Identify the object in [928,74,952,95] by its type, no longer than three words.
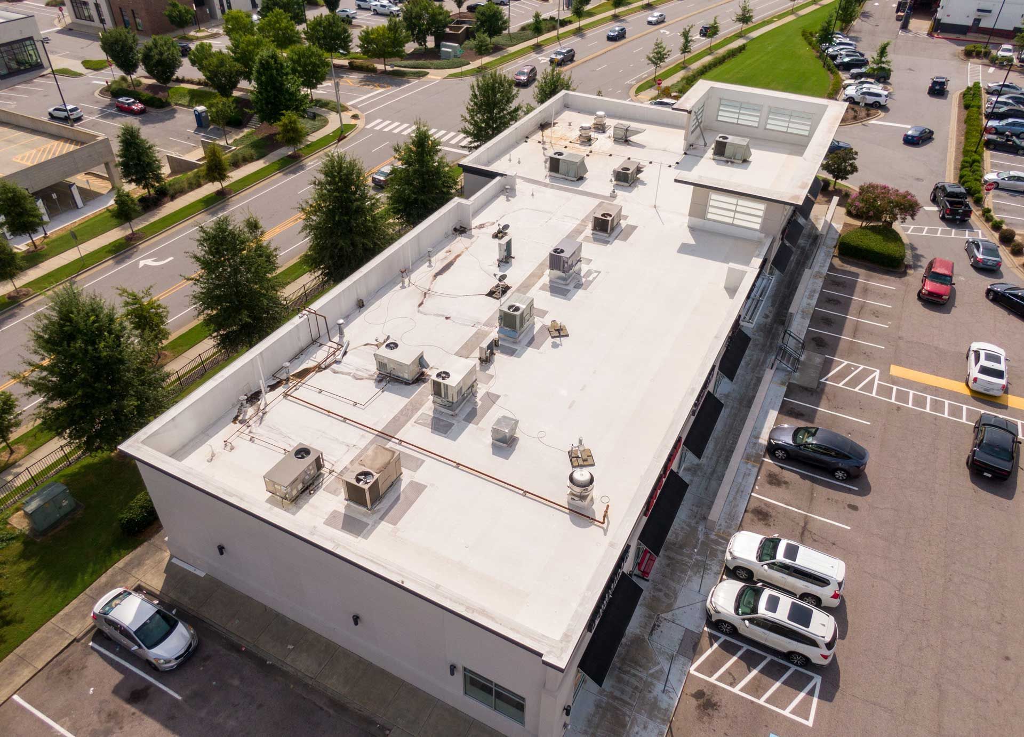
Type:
car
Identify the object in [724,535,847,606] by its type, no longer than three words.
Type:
car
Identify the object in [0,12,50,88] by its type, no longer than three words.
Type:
building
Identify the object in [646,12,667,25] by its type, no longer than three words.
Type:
vehicle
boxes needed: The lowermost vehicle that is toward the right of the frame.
[705,586,840,673]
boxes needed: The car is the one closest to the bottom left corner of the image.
[83,582,200,673]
